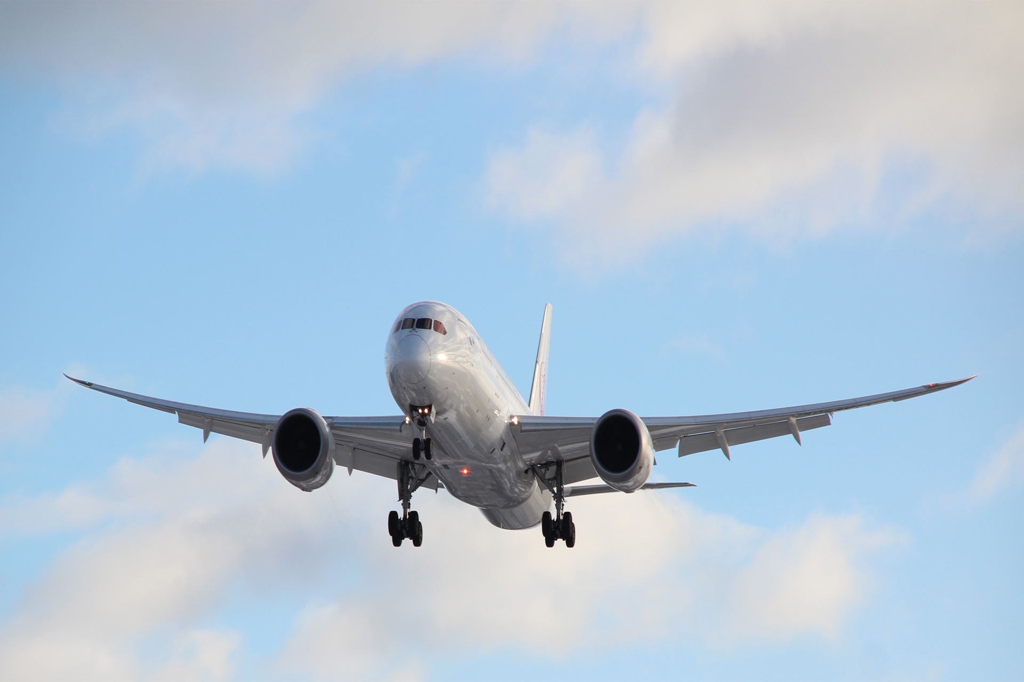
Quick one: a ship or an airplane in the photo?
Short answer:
airplane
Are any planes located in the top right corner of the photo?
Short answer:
No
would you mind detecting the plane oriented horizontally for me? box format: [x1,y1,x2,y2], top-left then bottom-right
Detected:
[62,300,977,547]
